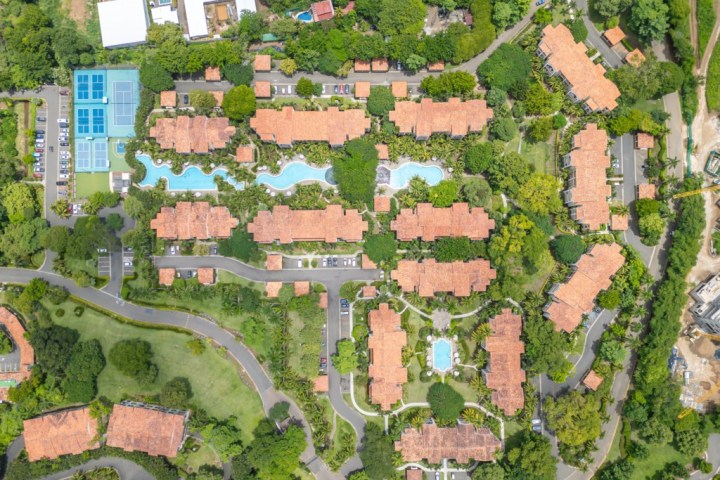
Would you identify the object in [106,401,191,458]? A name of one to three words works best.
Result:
building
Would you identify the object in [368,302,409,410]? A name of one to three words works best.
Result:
building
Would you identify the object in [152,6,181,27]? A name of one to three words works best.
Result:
house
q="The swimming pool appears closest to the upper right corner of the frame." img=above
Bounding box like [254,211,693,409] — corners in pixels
[377,162,444,190]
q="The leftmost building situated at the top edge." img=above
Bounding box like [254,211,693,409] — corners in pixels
[97,0,150,50]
